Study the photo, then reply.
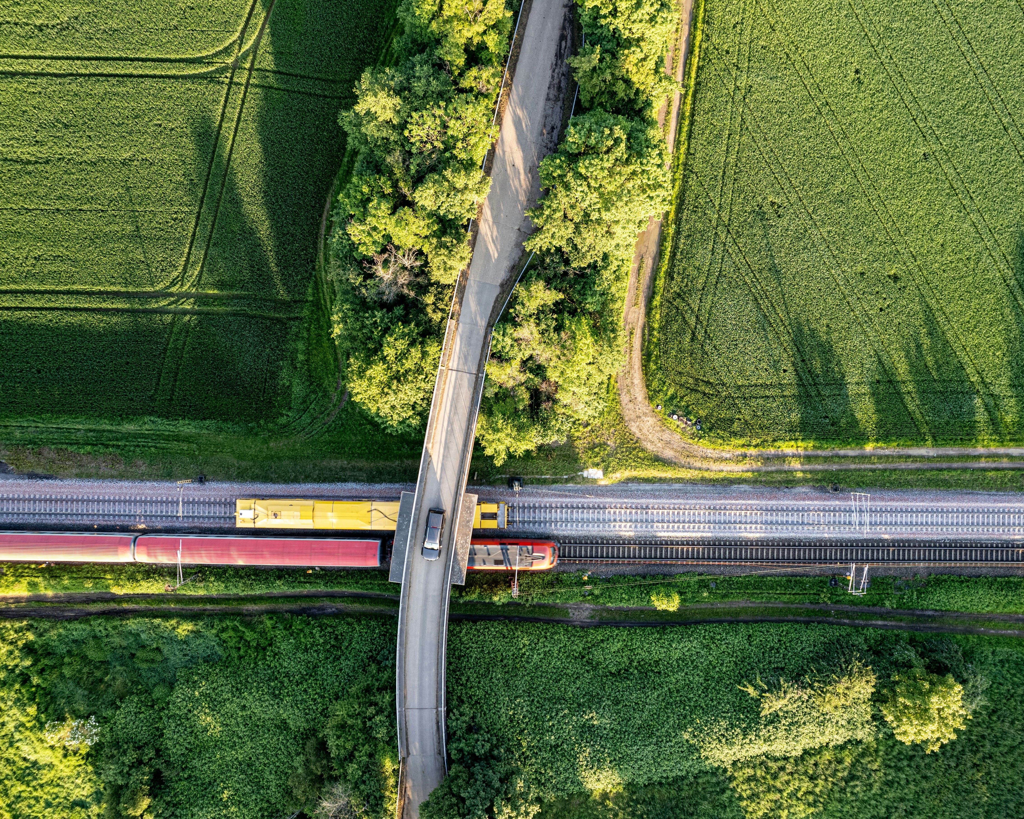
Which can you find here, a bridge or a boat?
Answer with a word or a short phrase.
bridge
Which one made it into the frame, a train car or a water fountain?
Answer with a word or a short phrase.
train car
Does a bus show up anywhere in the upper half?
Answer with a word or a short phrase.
No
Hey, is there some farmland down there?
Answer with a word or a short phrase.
Yes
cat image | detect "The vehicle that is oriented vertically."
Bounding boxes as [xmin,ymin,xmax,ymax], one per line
[421,507,446,560]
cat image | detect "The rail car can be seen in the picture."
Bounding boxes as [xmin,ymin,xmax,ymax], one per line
[467,539,562,570]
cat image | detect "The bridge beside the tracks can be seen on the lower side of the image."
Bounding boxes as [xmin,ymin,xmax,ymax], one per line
[389,318,499,765]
